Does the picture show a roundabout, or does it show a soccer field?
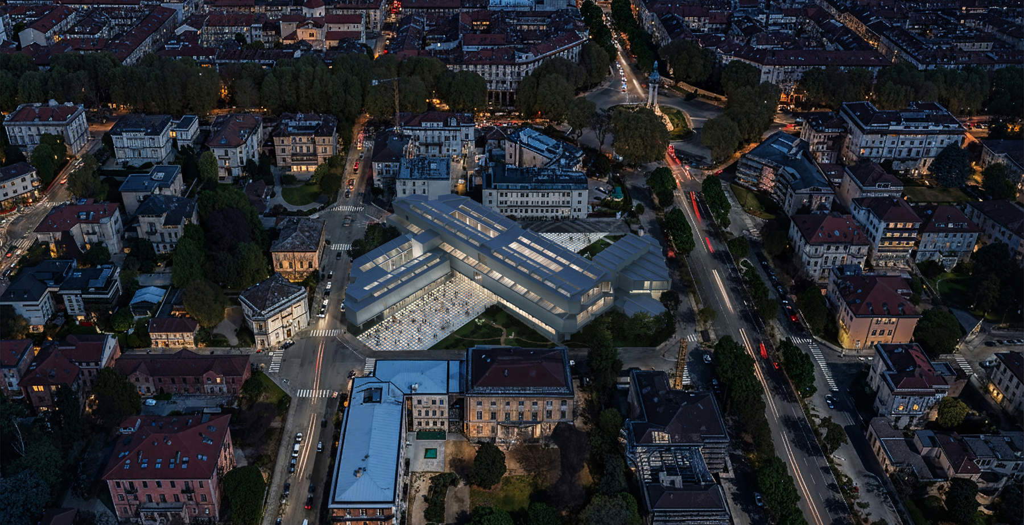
roundabout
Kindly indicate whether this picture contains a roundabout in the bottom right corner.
No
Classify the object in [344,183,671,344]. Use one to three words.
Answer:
building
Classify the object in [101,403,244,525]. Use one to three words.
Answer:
house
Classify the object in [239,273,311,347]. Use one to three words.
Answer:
house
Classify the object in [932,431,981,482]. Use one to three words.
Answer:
building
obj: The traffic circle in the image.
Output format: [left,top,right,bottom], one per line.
[563,88,729,160]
